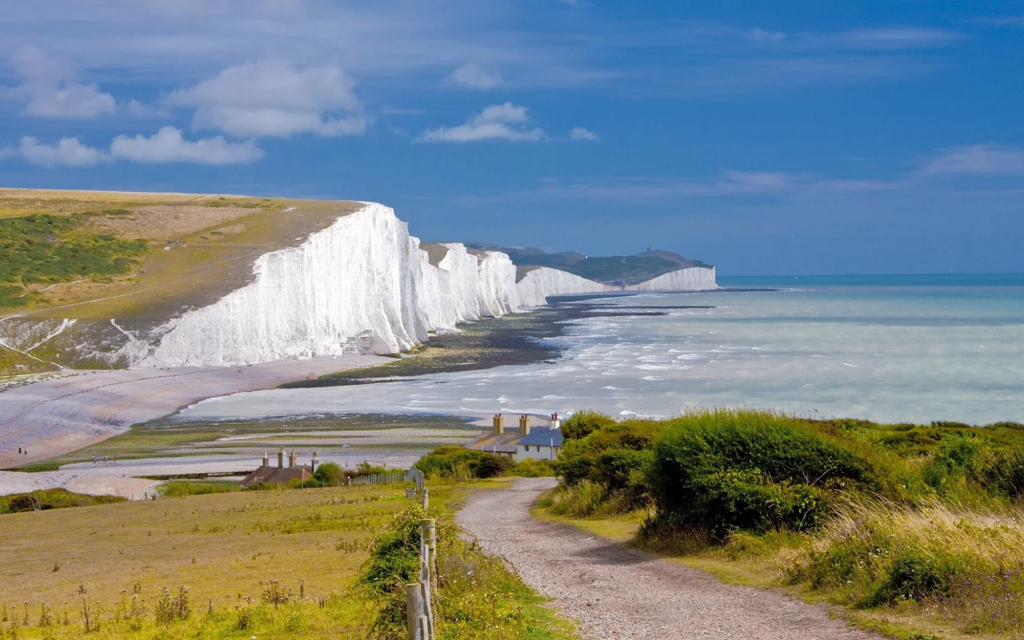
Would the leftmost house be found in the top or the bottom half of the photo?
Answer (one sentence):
The leftmost house is in the bottom half of the image.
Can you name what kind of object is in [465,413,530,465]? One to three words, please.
house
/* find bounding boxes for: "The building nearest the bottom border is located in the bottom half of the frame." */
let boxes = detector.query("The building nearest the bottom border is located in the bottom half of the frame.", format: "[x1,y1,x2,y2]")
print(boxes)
[243,448,322,493]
